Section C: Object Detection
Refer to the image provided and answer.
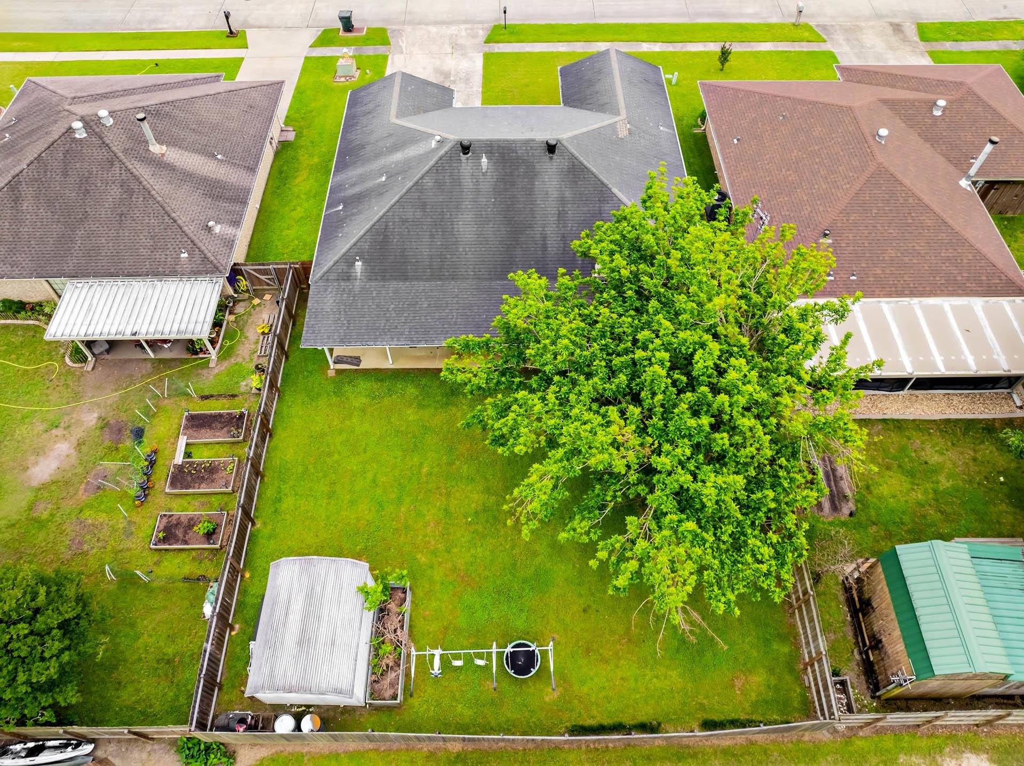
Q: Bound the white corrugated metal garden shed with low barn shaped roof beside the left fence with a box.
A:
[244,556,374,707]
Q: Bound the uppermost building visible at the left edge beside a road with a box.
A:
[0,73,290,317]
